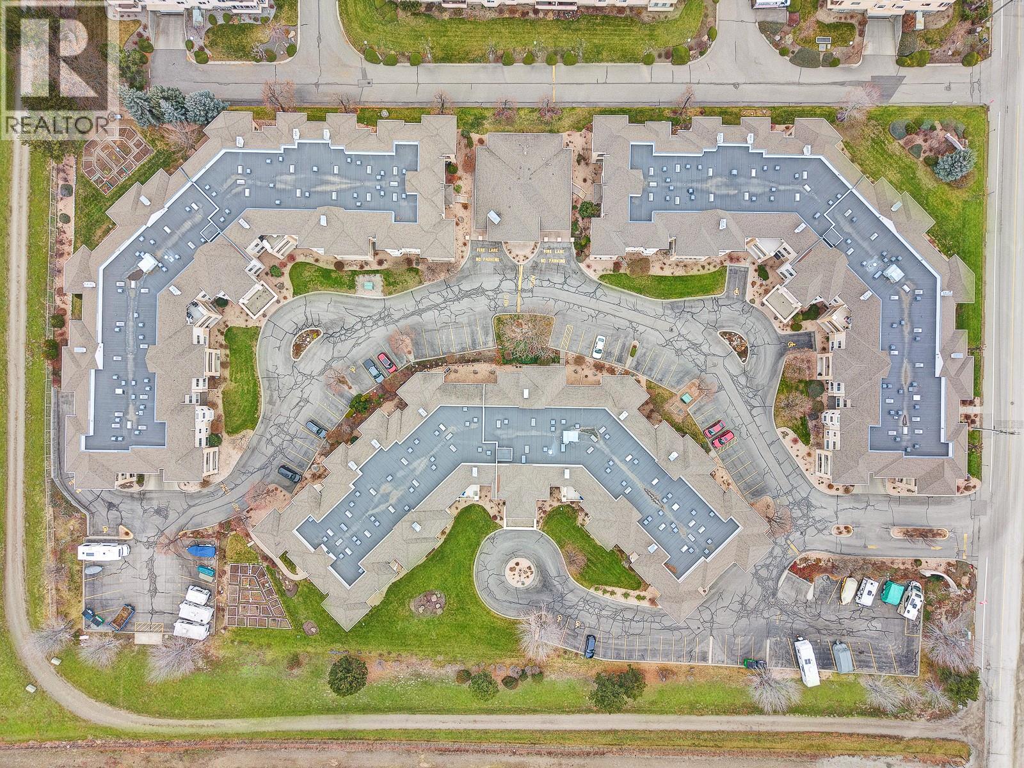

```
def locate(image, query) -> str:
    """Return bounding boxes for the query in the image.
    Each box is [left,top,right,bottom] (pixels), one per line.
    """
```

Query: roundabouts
[504,554,542,590]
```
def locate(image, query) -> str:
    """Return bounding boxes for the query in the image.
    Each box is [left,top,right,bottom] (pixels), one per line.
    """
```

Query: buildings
[61,111,458,490]
[103,0,275,19]
[382,0,679,12]
[828,0,959,22]
[465,132,574,244]
[588,115,975,495]
[250,366,775,632]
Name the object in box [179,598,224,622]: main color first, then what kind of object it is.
white trailer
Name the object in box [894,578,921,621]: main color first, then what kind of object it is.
white camper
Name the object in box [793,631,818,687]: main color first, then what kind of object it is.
white trailer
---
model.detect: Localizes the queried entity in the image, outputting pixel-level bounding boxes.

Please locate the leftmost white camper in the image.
[78,542,138,560]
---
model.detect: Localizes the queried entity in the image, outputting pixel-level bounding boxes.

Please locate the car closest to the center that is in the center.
[592,334,606,359]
